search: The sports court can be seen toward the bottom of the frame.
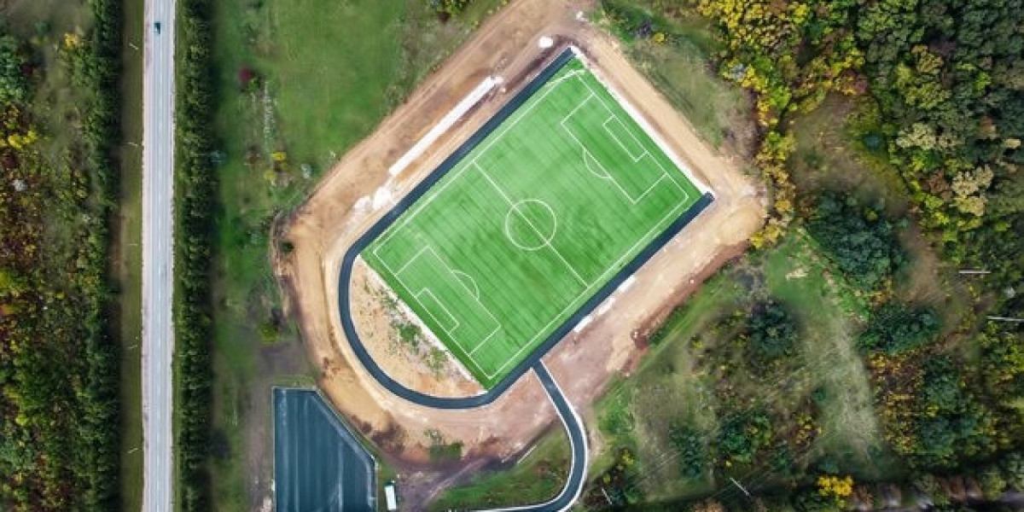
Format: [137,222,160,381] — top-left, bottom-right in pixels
[272,388,377,512]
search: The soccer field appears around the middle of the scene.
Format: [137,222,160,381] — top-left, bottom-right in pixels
[362,59,700,390]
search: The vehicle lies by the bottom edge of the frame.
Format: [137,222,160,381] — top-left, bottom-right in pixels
[383,480,395,509]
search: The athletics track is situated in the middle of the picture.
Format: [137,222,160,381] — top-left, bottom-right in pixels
[338,50,714,409]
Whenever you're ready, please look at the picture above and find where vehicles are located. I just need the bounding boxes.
[383,480,395,509]
[153,21,159,33]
